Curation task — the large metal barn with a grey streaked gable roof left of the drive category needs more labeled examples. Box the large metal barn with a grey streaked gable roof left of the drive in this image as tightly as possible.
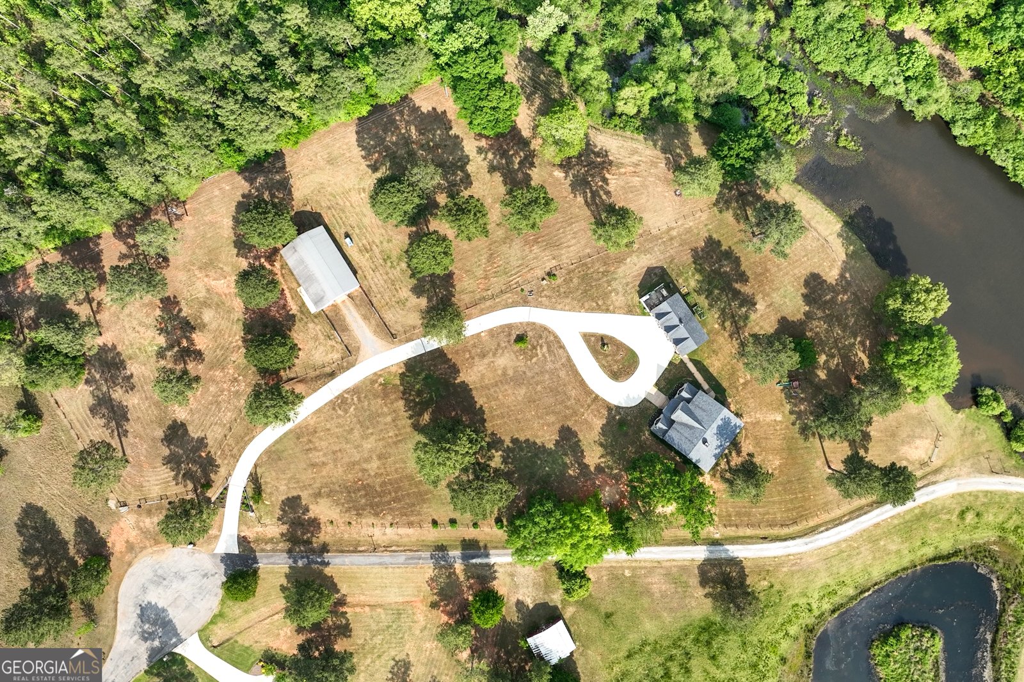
[280,225,361,314]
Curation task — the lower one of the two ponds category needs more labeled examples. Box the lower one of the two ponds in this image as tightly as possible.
[806,560,997,682]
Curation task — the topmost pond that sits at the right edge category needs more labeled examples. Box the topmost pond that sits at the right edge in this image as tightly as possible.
[758,0,1024,458]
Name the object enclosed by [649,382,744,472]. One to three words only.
house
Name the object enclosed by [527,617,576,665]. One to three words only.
shed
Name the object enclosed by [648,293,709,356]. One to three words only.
building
